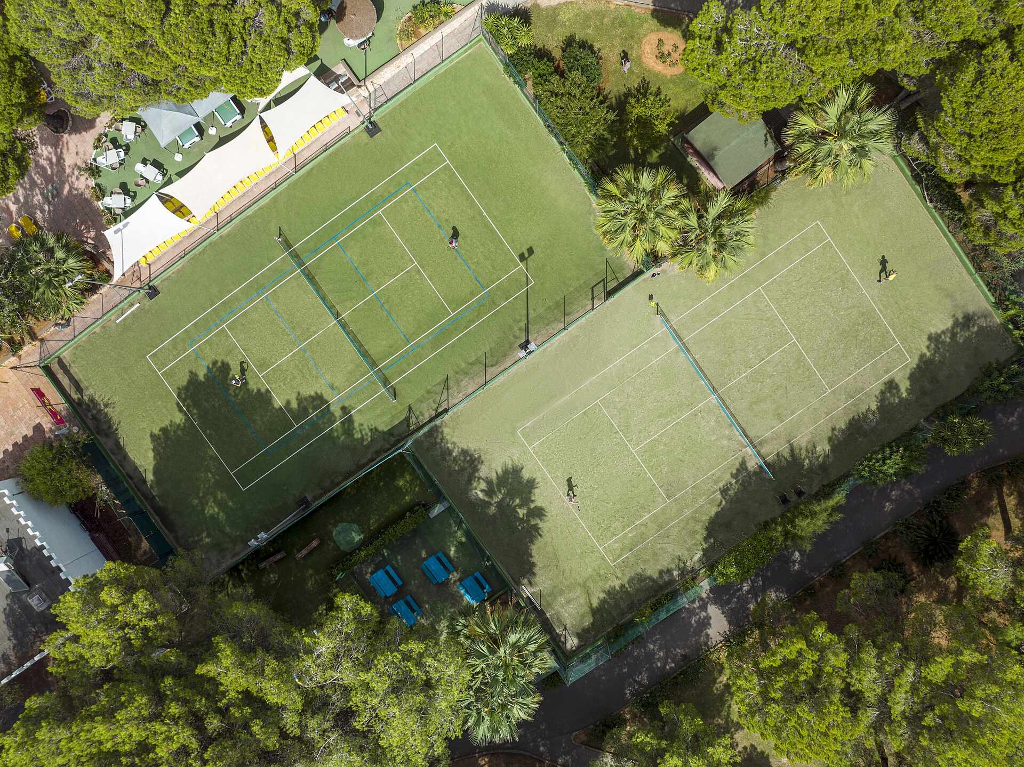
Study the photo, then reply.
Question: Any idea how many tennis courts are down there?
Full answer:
The number of tennis courts here is 2.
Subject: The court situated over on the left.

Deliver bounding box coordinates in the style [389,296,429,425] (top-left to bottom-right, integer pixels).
[41,43,641,577]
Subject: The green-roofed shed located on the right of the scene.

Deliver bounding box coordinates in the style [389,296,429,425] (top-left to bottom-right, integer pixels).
[682,101,780,195]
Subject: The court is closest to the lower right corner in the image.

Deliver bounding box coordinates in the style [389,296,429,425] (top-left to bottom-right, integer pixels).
[412,130,1019,658]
